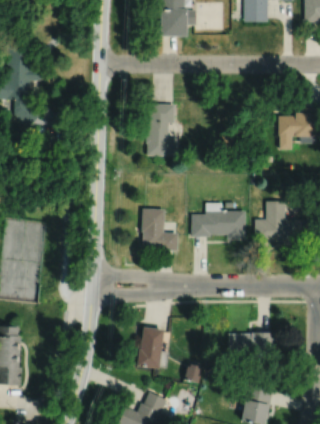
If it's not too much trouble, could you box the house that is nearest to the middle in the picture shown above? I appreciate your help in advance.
[142,208,178,251]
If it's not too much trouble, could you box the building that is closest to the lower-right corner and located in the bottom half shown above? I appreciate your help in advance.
[242,389,270,424]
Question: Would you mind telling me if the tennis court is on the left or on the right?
left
